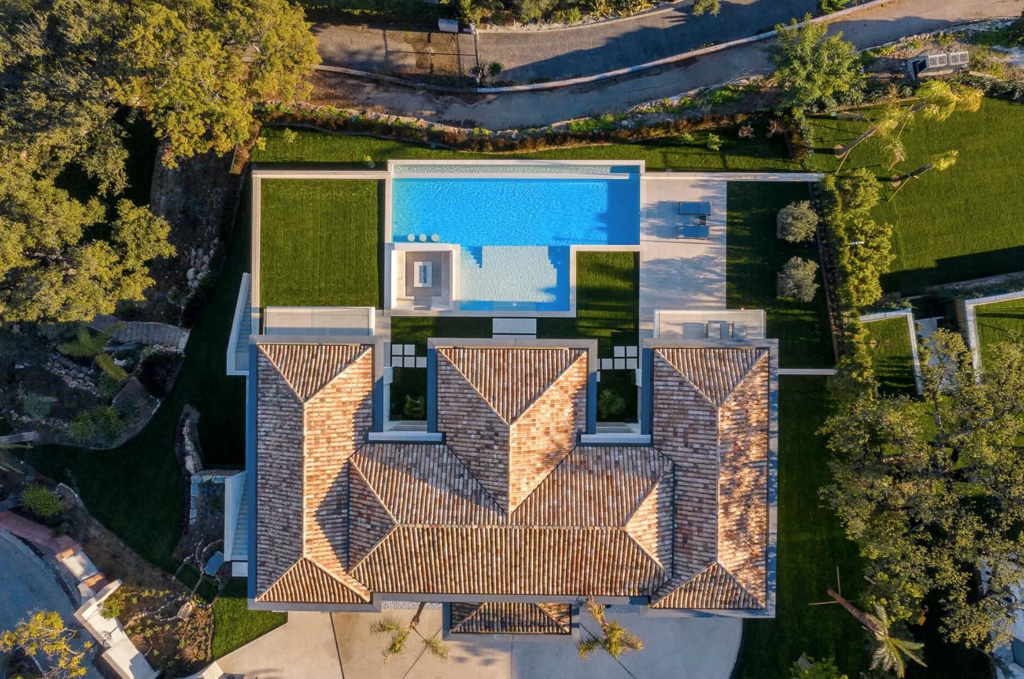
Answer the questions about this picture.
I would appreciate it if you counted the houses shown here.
1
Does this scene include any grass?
Yes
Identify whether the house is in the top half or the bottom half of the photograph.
bottom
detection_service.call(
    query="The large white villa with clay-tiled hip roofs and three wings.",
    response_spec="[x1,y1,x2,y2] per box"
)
[247,309,778,641]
